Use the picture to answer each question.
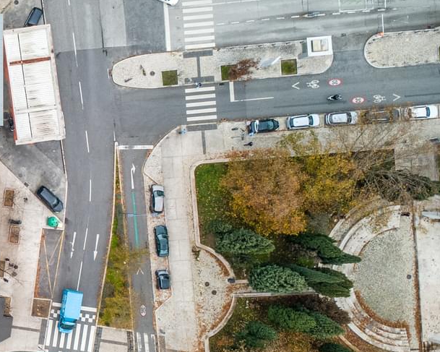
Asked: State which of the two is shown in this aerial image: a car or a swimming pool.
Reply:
car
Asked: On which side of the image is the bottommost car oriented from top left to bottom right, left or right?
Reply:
left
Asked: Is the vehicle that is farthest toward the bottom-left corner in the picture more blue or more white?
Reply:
blue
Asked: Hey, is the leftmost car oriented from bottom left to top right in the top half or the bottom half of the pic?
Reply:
top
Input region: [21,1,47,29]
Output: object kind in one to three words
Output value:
car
